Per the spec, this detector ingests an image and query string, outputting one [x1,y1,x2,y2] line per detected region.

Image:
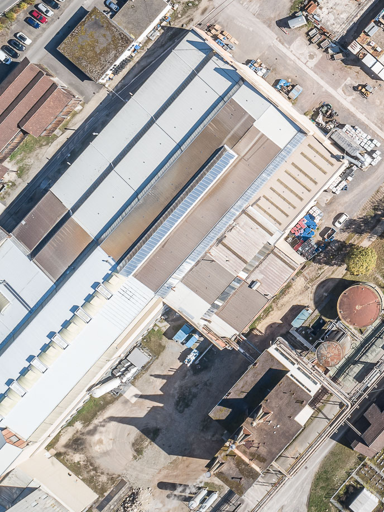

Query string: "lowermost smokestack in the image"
[204,440,239,478]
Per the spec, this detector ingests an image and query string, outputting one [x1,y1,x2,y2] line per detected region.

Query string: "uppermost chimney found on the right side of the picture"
[250,400,276,427]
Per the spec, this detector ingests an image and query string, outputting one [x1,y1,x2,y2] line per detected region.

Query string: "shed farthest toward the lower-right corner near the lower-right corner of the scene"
[349,483,381,512]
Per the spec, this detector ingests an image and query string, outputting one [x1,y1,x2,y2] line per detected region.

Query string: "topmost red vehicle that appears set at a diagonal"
[29,9,49,25]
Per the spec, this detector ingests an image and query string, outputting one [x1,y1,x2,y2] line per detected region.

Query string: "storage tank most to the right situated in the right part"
[337,281,384,328]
